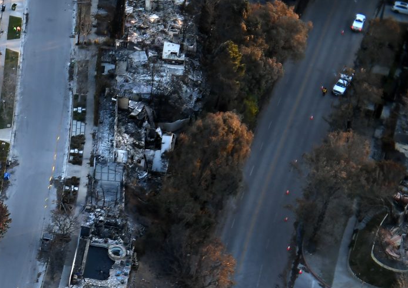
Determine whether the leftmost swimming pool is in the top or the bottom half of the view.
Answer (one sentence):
The bottom half of the photo is where the leftmost swimming pool is.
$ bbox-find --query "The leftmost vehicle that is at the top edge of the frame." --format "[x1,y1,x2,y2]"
[349,11,367,30]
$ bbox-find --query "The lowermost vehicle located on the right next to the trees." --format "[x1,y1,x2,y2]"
[331,68,354,92]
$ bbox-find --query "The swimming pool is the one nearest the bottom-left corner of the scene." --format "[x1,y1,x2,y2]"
[82,243,116,280]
